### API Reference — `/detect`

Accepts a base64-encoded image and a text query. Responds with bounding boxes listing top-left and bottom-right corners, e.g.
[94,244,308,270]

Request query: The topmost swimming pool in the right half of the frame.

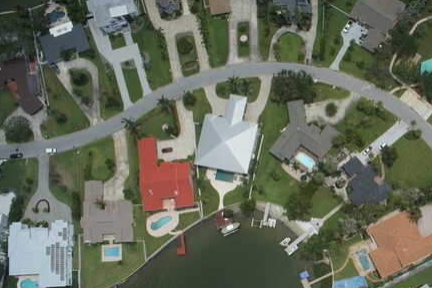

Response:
[289,147,317,181]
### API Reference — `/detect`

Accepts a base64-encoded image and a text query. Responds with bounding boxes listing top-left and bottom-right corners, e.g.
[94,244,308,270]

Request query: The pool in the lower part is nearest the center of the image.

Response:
[206,169,240,197]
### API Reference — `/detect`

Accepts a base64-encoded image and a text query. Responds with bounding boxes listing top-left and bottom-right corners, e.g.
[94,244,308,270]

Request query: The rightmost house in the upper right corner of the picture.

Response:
[351,0,406,52]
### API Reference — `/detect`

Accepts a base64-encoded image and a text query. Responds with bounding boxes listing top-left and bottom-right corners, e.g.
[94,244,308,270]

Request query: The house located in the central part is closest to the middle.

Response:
[195,94,258,174]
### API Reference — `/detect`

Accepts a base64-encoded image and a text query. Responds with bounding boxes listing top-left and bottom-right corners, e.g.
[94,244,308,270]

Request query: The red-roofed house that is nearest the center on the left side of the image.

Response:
[137,137,194,211]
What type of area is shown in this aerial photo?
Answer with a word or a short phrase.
residential area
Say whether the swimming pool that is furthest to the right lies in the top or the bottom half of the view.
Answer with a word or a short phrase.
bottom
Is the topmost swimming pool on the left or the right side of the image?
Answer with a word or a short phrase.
left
